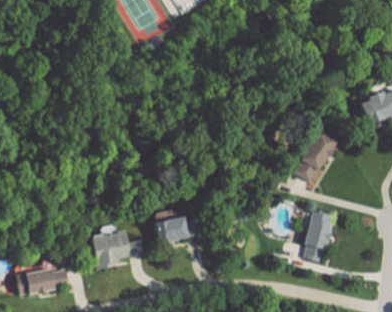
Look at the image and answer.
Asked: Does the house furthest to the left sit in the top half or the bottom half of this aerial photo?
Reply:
bottom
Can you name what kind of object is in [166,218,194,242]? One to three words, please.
house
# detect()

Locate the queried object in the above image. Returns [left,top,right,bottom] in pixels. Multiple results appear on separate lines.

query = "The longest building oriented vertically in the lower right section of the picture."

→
[304,212,334,264]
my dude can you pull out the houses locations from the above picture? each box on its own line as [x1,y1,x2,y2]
[93,230,142,270]
[296,134,338,183]
[166,218,194,242]
[304,212,334,264]
[17,270,69,298]
[364,92,392,123]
